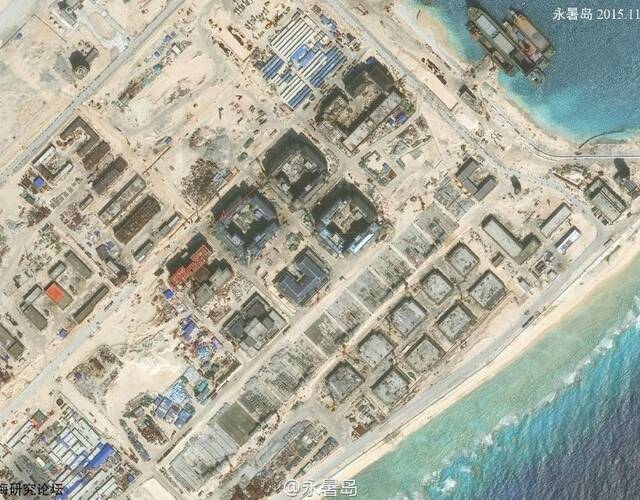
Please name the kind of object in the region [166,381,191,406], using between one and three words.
shed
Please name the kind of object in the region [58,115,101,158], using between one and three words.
building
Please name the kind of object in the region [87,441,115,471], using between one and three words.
building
